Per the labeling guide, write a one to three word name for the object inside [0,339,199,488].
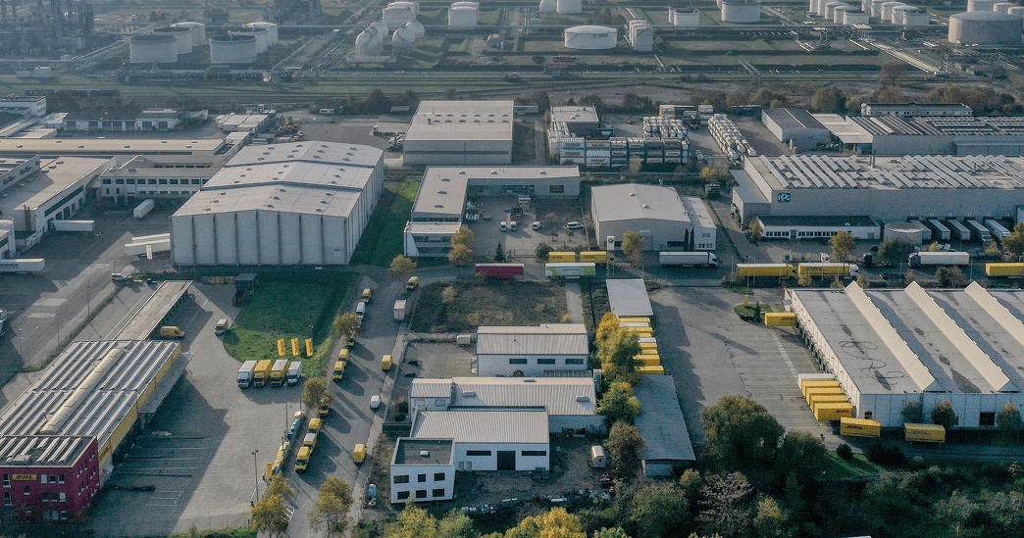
building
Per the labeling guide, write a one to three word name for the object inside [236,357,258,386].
truck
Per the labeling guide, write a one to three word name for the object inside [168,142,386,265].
warehouse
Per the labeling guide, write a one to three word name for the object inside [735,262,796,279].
trailer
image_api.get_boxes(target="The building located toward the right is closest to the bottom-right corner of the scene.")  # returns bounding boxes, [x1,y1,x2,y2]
[785,281,1024,429]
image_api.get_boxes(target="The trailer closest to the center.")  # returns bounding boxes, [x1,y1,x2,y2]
[475,261,525,278]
